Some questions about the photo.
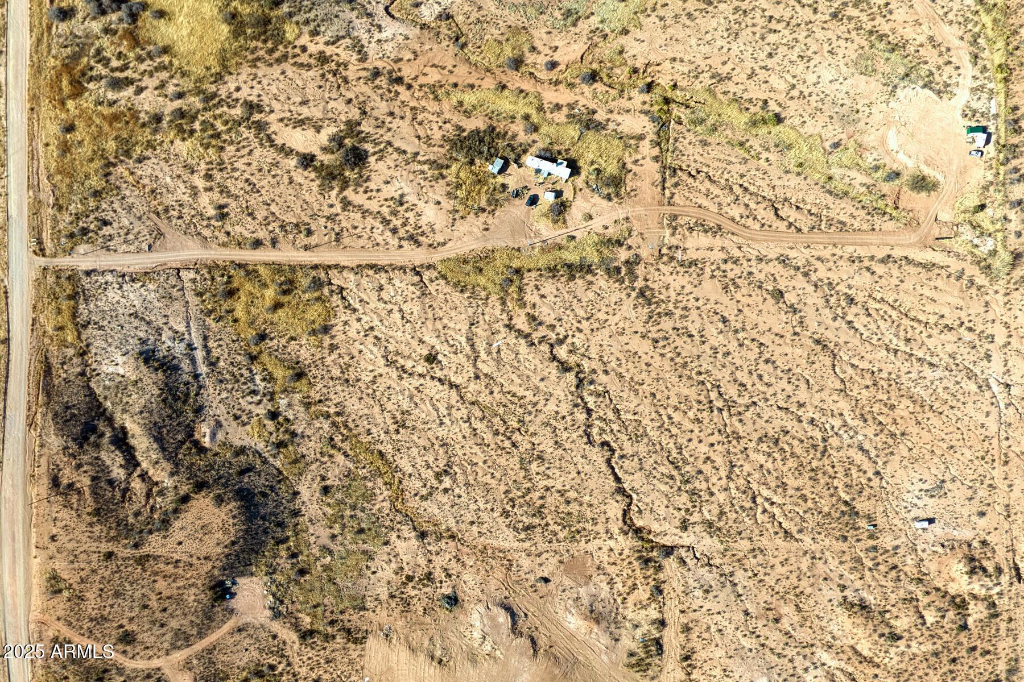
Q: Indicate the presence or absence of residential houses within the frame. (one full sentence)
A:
Yes, you can see a residential house in this photo.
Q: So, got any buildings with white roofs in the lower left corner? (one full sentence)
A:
No, I see no building with a white roof in the lower left corner.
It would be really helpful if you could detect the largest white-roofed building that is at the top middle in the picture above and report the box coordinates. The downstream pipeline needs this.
[526,158,572,183]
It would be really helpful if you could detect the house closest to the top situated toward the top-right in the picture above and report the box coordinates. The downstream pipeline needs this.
[963,126,986,150]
